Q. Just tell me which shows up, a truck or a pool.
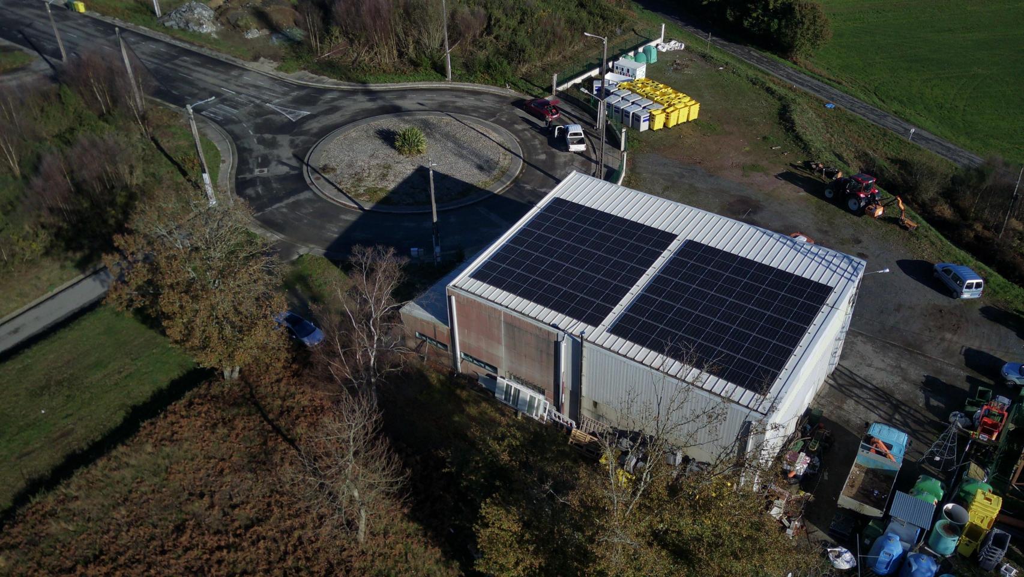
truck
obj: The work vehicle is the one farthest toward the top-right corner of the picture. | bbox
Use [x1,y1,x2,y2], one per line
[827,168,886,212]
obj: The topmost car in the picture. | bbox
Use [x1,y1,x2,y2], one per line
[520,99,561,122]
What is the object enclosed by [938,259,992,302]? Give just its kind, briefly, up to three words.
van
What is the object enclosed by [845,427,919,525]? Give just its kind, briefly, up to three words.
truck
